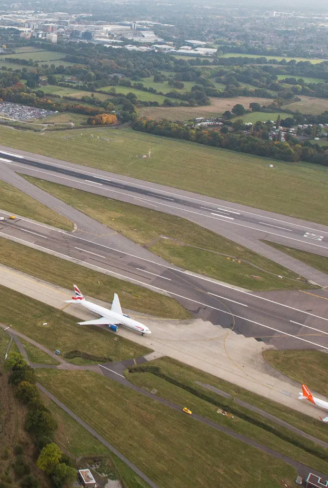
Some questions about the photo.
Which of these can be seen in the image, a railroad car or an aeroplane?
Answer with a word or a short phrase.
aeroplane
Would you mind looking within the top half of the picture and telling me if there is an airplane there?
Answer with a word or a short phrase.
No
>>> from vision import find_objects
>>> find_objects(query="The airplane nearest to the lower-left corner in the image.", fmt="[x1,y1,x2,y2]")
[60,280,144,328]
